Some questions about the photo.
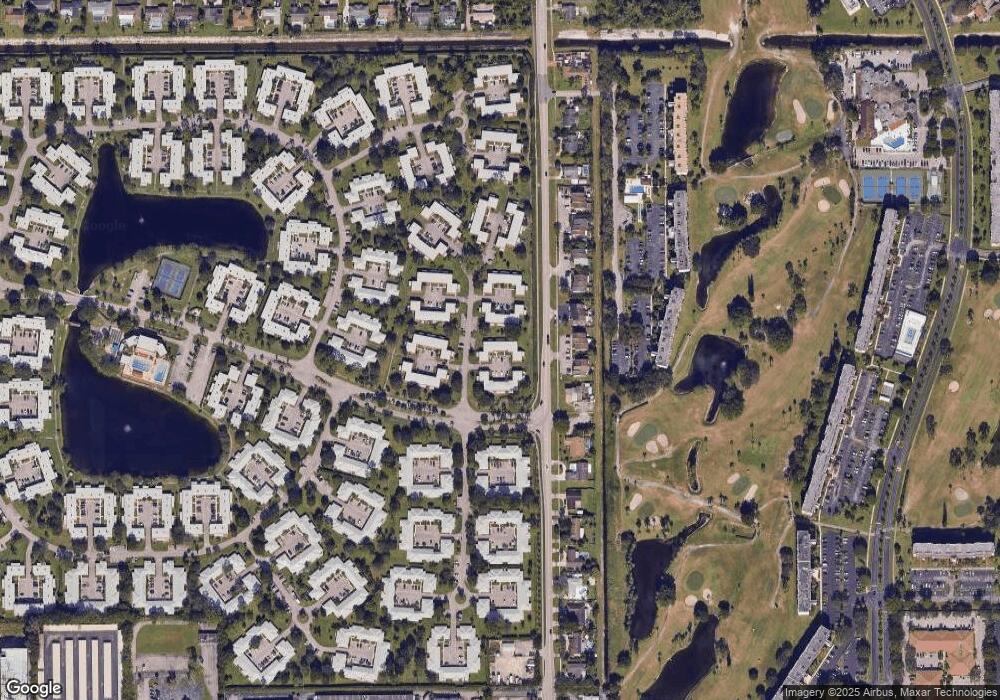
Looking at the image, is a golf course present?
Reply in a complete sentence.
Yes, there's a golf course here.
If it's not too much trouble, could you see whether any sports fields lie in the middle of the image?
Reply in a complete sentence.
No, in the middle of the image there is no sports field.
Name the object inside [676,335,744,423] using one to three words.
pond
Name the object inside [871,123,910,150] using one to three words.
swimming pool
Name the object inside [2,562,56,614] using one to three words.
building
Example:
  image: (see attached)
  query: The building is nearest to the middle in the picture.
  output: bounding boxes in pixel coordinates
[476,341,526,363]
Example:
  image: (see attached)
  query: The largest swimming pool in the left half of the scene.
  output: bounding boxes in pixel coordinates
[120,353,154,382]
